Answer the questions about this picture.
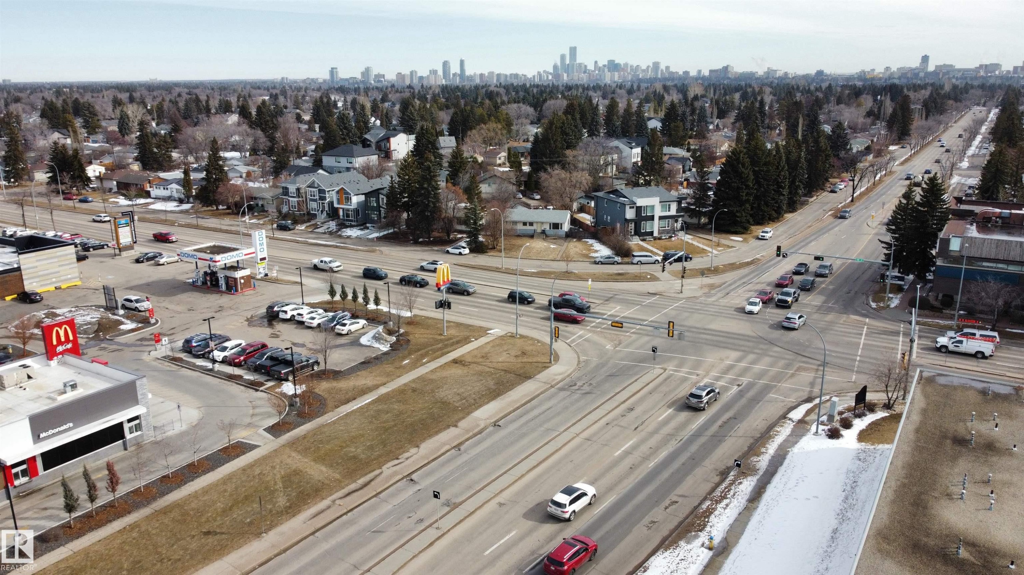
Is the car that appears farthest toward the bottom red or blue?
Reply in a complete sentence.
The car that appears farthest toward the bottom looks red in the image.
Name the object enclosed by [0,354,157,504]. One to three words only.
building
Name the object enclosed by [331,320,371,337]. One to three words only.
car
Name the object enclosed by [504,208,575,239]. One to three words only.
house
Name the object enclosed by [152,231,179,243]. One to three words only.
vehicle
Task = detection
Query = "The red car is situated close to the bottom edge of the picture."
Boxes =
[541,538,597,575]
